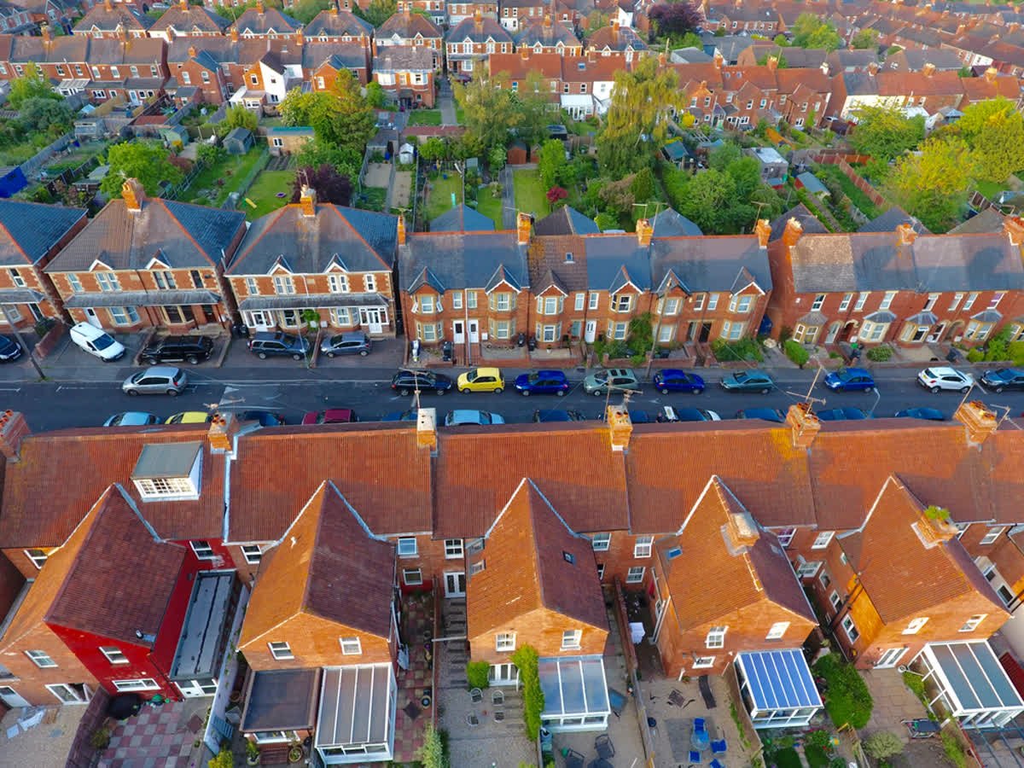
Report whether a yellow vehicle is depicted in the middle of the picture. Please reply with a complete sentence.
Yes, the scene does show a yellow vehicle in the middle of the picture.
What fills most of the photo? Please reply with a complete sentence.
Most of the picture is covered by buildings.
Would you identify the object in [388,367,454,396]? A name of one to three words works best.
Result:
car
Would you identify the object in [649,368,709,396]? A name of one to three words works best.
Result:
car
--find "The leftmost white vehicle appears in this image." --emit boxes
[64,317,120,359]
